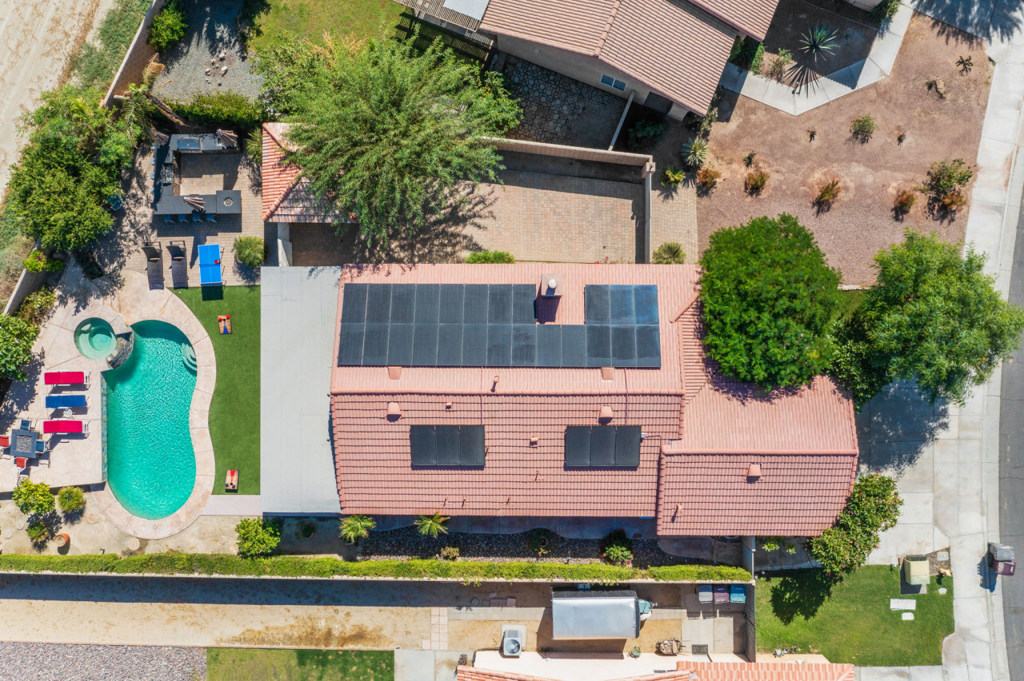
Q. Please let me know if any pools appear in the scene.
Yes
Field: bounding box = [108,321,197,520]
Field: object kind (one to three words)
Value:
swimming pool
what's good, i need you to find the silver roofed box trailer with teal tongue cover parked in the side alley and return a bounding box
[550,581,655,640]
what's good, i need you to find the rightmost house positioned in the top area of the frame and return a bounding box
[478,0,777,121]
